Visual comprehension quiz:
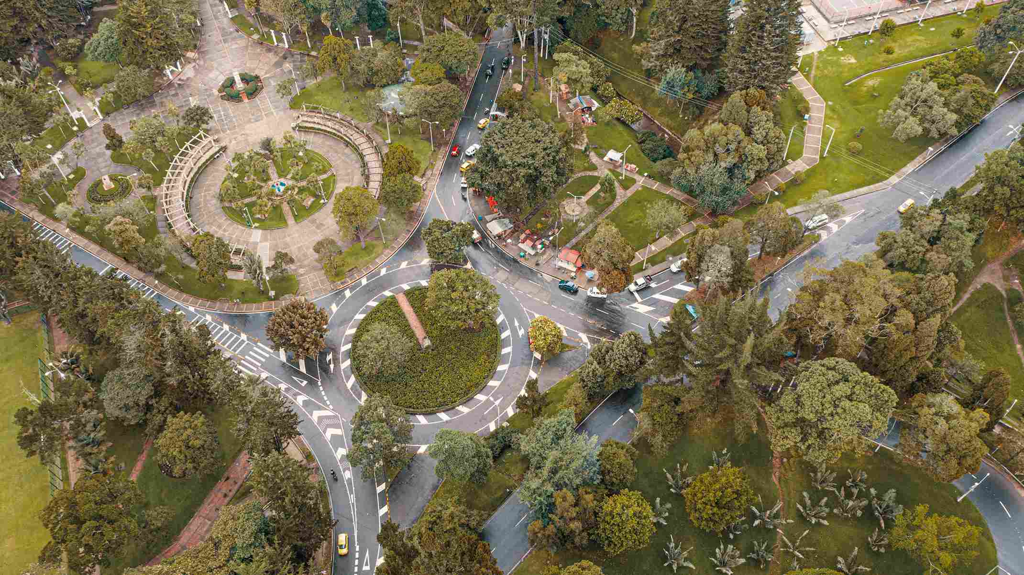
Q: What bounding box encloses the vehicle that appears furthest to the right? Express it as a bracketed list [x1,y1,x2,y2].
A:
[898,198,915,213]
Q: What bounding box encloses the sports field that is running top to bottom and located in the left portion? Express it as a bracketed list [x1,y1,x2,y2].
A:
[0,313,52,575]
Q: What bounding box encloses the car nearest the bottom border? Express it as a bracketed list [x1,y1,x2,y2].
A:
[335,532,349,559]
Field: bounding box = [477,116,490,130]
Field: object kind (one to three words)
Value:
vehicle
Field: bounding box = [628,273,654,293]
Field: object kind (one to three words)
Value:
vehicle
